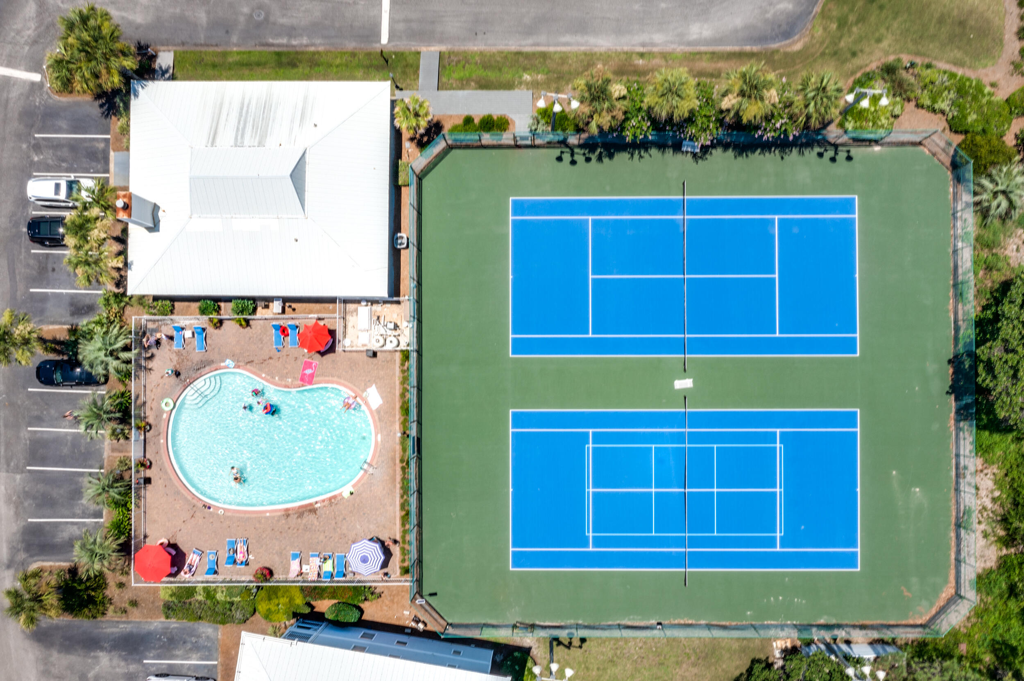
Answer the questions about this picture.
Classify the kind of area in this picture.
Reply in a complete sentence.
The picture captures a sports ground.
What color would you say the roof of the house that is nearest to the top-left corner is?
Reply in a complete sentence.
The roof of the house that is nearest to the top-left corner is white.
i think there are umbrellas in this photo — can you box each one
[298,319,331,353]
[136,547,172,581]
[347,538,385,577]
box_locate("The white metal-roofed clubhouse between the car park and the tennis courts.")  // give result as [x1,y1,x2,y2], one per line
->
[115,80,394,298]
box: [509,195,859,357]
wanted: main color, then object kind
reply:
blue tennis court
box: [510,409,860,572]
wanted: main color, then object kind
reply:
blue tennis court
